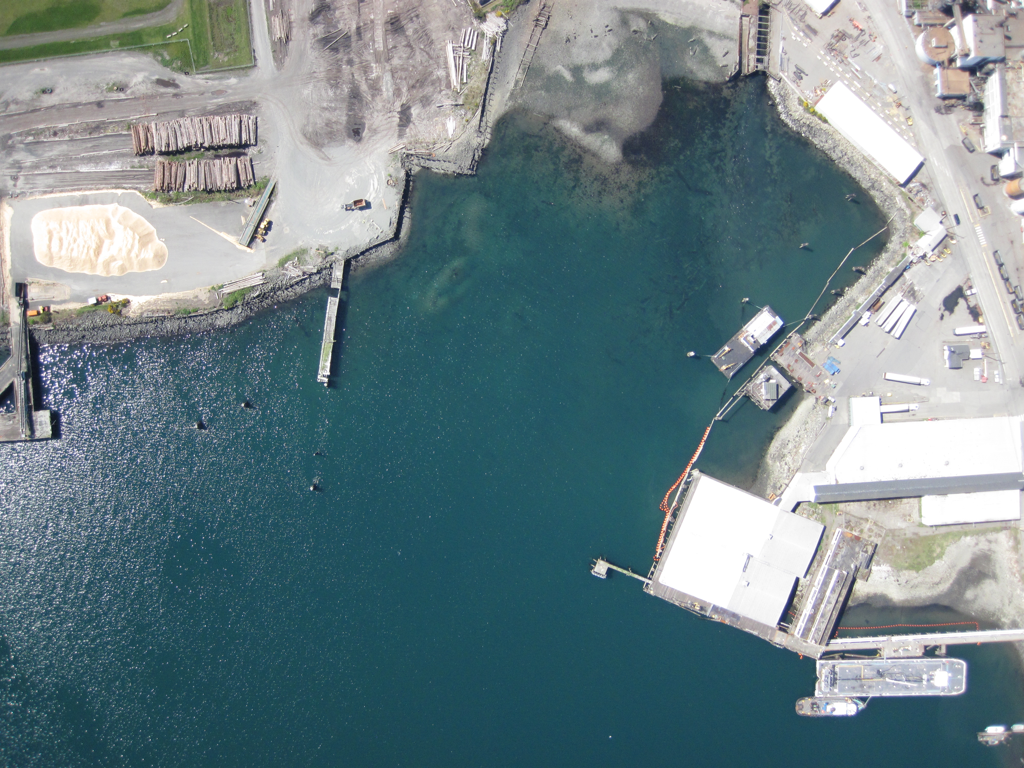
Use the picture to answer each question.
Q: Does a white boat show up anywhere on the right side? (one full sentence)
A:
Yes, looking on the right side, one can make out a white boat.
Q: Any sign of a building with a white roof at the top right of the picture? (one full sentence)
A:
Yes, you'll find a building with a white roof at the top right of the picture.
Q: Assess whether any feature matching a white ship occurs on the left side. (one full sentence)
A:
No, looking on the left side, there is no white ship.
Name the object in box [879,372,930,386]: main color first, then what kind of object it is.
white vehicle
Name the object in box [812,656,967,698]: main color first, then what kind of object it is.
white ship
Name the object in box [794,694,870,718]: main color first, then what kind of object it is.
white boat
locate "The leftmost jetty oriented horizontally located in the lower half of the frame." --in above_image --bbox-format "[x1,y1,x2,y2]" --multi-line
[591,555,648,582]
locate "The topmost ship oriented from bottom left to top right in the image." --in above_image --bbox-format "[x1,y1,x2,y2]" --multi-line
[710,306,785,378]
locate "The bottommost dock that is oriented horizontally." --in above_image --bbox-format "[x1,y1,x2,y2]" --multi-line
[824,625,1024,657]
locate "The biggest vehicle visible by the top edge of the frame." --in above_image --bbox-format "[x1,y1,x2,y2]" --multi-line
[846,13,867,35]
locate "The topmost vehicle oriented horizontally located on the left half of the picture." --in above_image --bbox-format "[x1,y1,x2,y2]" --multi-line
[341,198,366,211]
